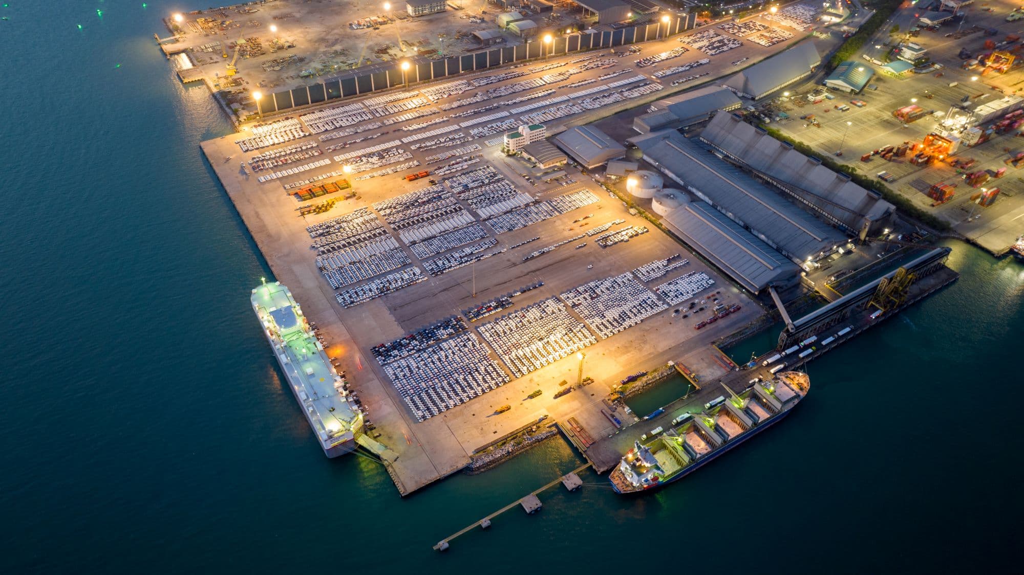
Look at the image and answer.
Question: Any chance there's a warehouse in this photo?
Yes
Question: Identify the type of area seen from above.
port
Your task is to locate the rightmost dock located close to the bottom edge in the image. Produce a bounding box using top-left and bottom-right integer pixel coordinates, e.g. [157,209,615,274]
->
[434,459,593,549]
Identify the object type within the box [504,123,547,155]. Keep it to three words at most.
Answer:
building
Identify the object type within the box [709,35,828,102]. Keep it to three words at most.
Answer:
building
